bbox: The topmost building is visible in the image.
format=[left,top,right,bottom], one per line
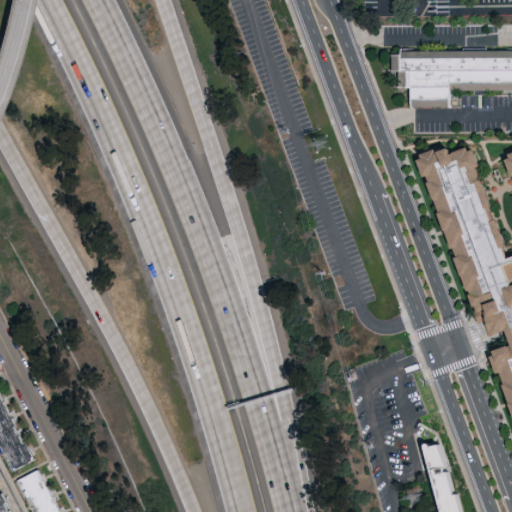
[391,47,512,108]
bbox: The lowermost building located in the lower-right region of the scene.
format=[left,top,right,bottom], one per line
[421,443,467,512]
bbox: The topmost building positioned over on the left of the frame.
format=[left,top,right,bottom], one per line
[0,393,35,468]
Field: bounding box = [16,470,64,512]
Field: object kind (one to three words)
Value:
building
